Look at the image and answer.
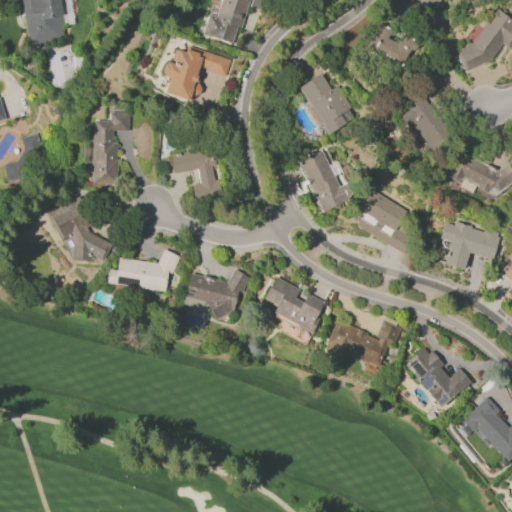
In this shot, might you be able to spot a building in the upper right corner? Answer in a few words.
Yes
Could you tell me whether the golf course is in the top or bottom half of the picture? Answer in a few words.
bottom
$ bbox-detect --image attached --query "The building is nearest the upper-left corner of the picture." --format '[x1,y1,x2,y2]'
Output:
[24,0,67,44]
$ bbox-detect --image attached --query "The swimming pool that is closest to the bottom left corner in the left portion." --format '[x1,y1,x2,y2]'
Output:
[92,290,114,308]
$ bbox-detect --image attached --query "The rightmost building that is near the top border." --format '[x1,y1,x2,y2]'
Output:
[460,11,512,68]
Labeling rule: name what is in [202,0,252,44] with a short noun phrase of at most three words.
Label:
house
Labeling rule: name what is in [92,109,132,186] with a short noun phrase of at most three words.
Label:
house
